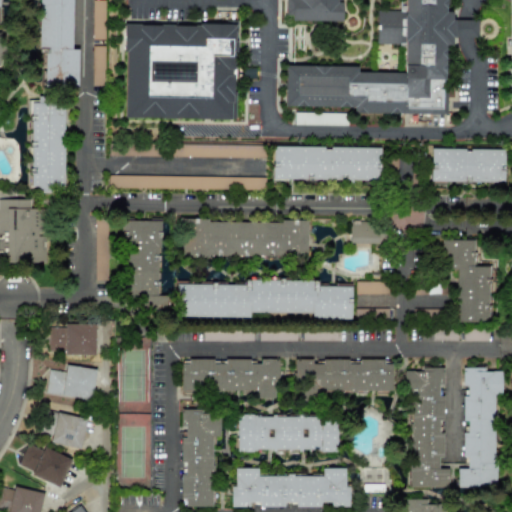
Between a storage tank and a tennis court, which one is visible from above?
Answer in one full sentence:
The image shows a tennis court.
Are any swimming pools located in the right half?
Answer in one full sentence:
Yes, a swimming pool appears in the right half.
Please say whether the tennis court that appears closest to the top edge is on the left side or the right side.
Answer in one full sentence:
The tennis court that appears closest to the top edge is on the left side of the image.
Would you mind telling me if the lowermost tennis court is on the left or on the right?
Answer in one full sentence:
The lowermost tennis court appears in the left half of the scene.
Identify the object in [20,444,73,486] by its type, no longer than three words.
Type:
house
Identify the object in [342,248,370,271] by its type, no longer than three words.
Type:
swimming pool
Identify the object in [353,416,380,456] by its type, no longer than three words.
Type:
swimming pool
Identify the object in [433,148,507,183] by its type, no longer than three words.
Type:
building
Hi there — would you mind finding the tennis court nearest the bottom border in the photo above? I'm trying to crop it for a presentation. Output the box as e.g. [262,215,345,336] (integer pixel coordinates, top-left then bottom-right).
[119,414,151,488]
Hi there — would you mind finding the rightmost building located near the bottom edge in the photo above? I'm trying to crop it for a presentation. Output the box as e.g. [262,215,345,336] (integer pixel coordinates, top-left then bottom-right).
[460,368,504,488]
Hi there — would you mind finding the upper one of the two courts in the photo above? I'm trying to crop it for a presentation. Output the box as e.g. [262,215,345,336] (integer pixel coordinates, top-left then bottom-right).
[119,347,151,412]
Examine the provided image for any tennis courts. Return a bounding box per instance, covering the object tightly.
[119,414,151,488]
[119,347,151,412]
